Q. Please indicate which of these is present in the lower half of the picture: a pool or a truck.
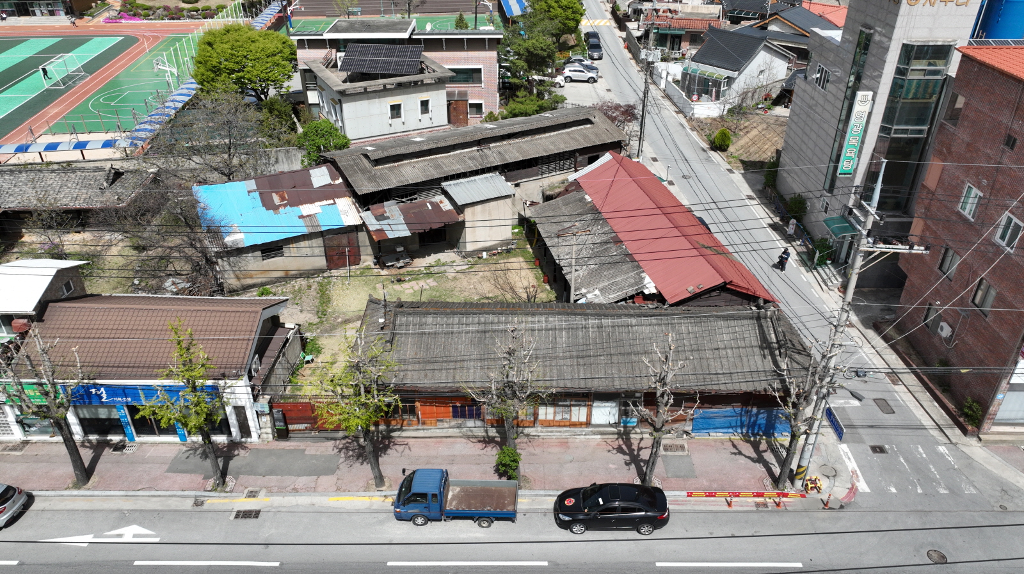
truck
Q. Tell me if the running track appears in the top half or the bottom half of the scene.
top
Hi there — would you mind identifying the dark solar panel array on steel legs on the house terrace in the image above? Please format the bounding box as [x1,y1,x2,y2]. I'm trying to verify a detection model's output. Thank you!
[340,45,423,90]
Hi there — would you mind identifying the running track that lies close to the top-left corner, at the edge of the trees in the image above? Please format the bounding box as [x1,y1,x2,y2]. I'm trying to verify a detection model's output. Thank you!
[0,30,167,165]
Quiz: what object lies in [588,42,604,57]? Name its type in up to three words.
car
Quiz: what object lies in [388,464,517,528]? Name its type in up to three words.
truck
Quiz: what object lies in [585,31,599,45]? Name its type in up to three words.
car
